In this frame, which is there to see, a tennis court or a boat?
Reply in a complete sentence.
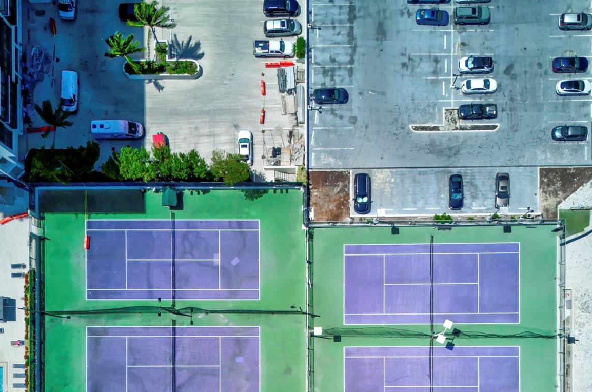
Looking from above, you can make out a tennis court.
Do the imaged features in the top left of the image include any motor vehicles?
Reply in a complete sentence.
Yes, looking in the top left of the image, one can make out a motor vehicle.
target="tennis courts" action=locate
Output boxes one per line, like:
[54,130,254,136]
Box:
[86,318,260,392]
[344,338,520,392]
[343,234,520,331]
[86,210,260,308]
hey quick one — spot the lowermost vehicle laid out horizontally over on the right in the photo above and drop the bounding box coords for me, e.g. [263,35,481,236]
[550,124,588,142]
